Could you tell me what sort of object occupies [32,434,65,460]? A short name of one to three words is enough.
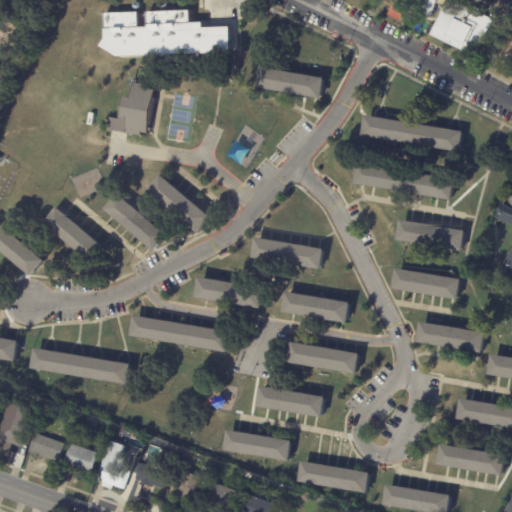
house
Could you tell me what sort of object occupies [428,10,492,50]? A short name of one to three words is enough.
building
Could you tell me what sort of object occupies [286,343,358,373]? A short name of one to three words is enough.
building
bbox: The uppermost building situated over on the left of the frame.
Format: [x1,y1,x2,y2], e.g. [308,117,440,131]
[100,10,230,58]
